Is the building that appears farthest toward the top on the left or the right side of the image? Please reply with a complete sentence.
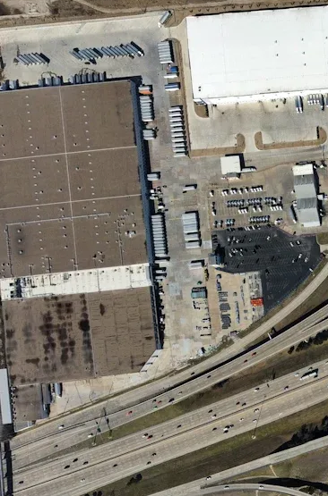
The building that appears farthest toward the top appears in the right half of the scene.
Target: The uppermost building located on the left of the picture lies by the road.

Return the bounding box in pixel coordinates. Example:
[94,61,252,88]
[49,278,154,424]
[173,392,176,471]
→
[0,80,166,386]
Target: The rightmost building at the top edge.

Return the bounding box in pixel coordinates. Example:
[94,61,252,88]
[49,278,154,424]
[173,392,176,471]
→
[185,4,328,107]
